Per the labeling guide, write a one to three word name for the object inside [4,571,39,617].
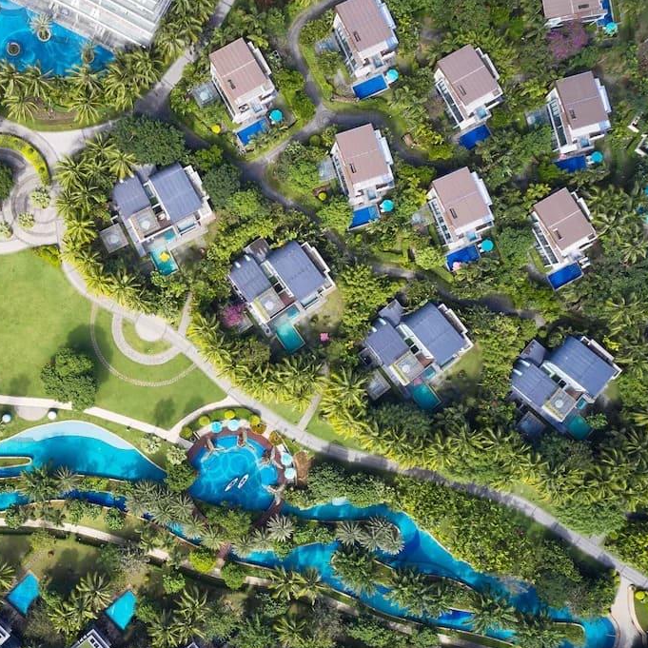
swimming pool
